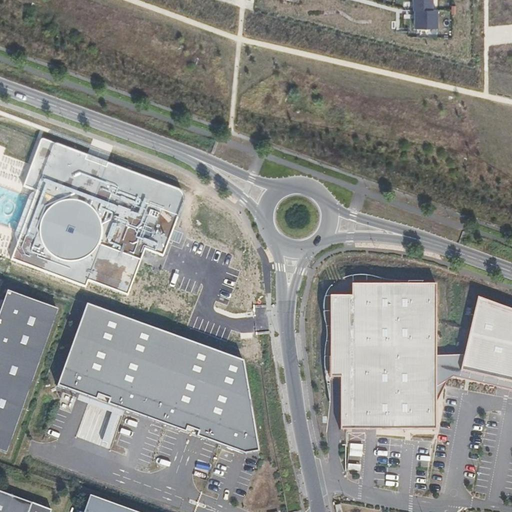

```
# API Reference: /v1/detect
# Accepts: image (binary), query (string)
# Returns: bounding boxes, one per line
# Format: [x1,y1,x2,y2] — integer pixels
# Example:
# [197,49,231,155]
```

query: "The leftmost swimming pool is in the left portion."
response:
[0,186,29,232]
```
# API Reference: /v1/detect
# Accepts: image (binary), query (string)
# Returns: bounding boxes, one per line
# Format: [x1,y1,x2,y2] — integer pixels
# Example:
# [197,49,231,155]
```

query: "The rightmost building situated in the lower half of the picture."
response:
[453,295,512,390]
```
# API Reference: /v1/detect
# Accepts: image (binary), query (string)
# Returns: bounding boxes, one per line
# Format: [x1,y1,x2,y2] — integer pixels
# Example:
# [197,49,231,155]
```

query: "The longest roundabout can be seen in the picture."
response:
[210,158,384,268]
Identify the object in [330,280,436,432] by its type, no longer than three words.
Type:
building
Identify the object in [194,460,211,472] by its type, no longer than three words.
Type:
vehicle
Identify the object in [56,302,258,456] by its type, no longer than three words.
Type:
building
